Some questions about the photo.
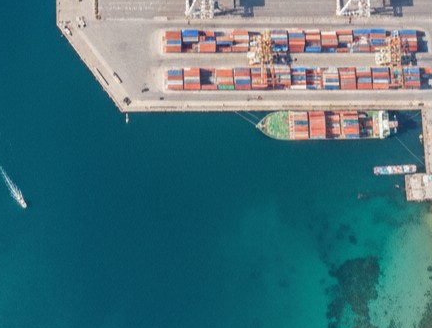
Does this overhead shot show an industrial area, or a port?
port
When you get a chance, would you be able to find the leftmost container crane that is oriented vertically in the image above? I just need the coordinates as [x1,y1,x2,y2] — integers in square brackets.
[247,28,275,96]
